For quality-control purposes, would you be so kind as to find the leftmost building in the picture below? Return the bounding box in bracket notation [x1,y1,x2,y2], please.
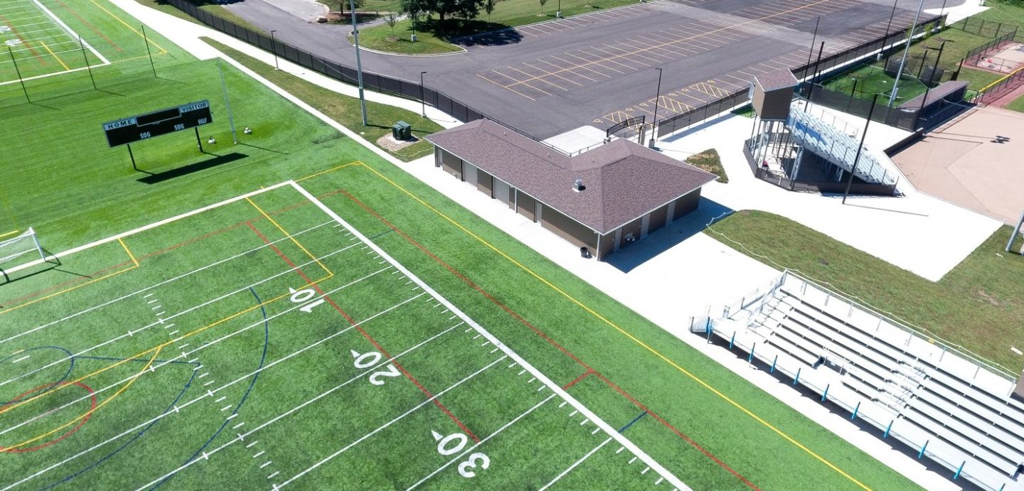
[424,118,719,262]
